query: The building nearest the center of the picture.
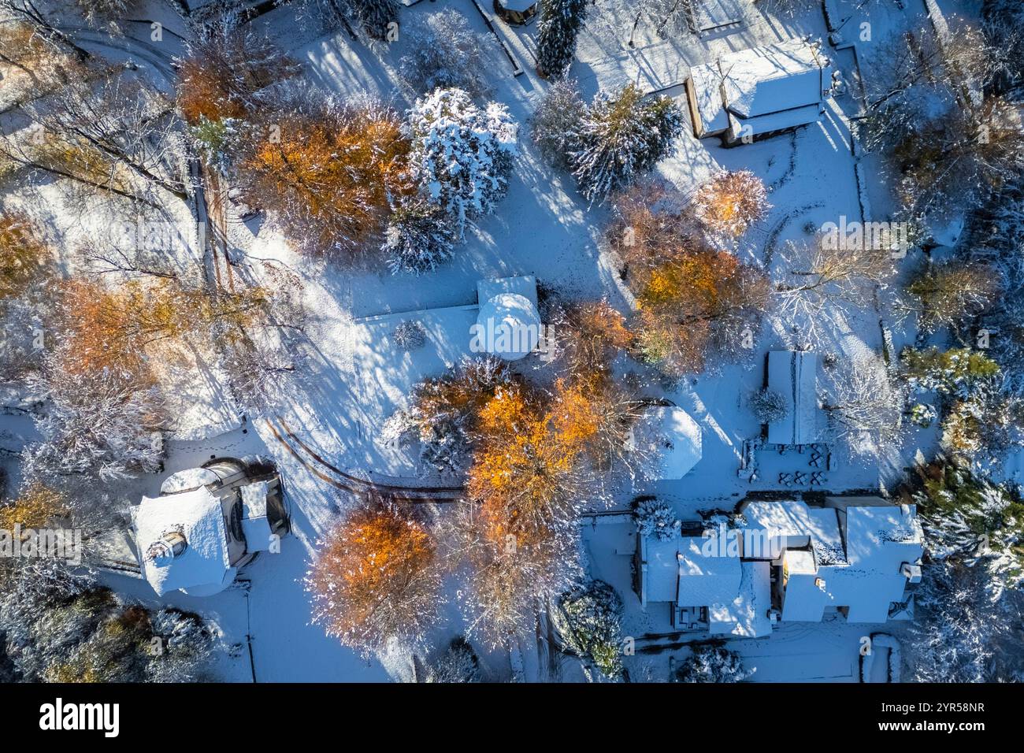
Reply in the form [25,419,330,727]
[474,276,541,361]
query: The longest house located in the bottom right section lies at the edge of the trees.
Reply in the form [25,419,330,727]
[635,493,925,638]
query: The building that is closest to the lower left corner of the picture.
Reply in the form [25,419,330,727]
[130,456,290,598]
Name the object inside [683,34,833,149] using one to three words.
house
